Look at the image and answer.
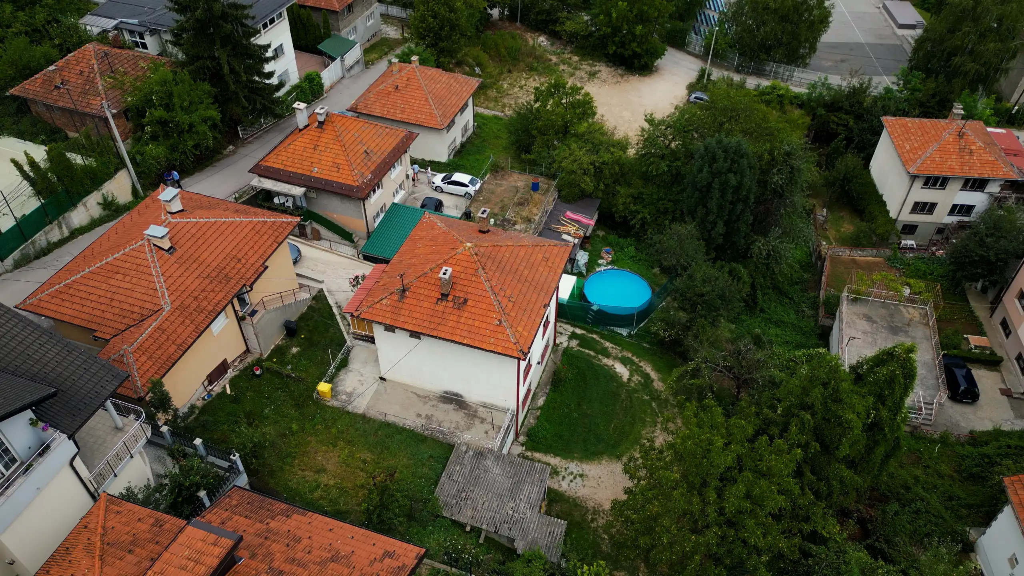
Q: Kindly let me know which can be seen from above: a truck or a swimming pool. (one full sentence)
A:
I can see a swimming pool in this picture.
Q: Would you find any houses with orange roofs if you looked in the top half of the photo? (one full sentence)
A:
Yes, I can see a house with an orange roof in the top half of the photo.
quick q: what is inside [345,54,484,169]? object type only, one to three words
house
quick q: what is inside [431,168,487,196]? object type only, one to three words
car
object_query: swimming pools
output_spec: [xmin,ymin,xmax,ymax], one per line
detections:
[581,270,653,321]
